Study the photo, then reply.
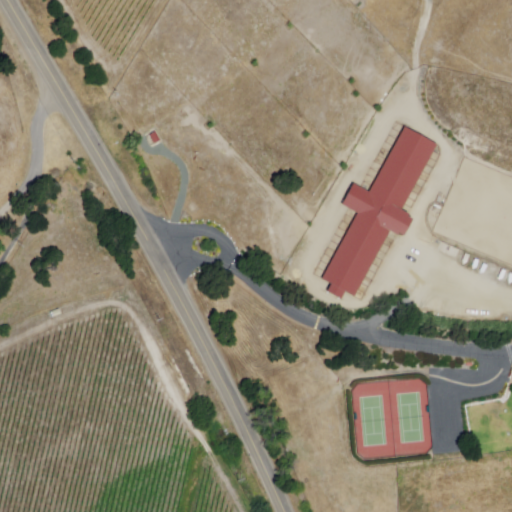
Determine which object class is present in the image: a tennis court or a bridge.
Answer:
tennis court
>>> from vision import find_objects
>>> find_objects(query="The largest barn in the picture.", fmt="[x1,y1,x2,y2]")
[323,125,436,298]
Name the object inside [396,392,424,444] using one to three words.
tennis court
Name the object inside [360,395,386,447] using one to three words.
tennis court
